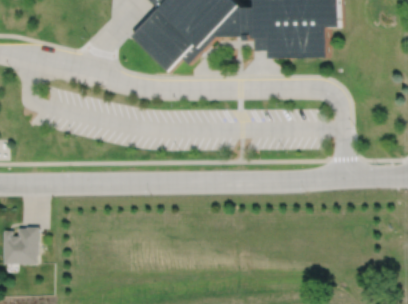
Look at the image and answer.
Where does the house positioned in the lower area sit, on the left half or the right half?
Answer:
left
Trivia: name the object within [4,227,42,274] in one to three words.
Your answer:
house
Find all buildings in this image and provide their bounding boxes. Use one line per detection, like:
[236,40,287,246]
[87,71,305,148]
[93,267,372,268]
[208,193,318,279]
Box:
[134,0,344,72]
[4,227,42,274]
